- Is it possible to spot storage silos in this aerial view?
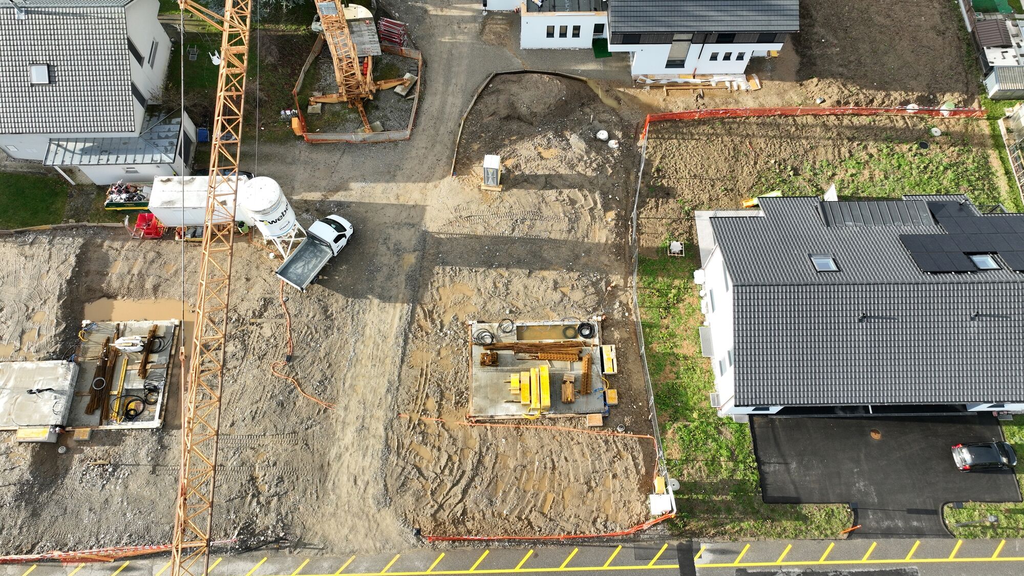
Yes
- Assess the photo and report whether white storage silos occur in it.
Yes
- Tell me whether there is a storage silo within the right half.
No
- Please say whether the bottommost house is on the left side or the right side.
right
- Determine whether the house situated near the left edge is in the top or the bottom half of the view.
top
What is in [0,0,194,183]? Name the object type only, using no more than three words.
house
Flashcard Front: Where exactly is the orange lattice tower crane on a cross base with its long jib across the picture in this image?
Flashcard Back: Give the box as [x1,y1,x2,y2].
[169,0,409,576]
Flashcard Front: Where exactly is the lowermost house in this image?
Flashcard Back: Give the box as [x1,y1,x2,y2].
[695,194,1024,420]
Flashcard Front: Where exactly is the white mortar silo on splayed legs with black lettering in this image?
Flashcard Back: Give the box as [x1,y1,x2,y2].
[235,178,308,261]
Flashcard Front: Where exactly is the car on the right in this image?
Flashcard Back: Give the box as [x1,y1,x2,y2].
[947,437,1019,474]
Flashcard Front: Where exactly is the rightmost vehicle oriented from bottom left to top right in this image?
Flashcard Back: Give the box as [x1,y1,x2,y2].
[277,215,353,292]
